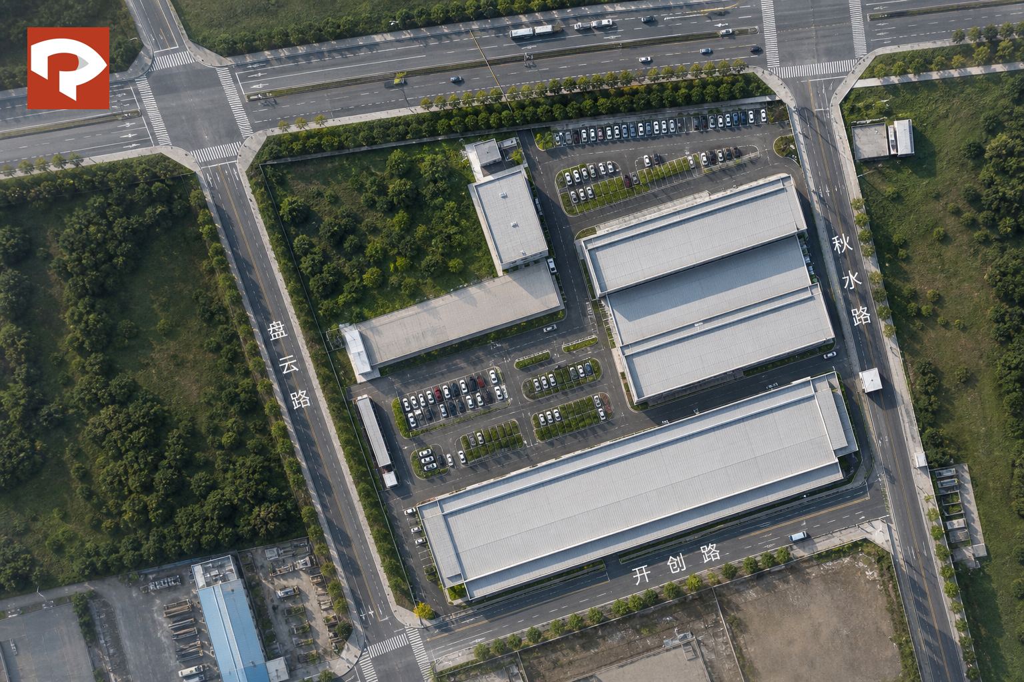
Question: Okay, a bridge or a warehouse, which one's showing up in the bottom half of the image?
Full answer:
The one visible in the bottom half of the image is a warehouse.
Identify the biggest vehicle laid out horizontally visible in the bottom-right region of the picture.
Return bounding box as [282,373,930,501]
[788,530,809,542]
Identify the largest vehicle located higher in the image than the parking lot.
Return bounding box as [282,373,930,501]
[508,22,552,38]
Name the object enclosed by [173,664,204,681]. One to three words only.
vehicle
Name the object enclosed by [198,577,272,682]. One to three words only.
shed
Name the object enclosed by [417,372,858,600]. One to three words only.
warehouse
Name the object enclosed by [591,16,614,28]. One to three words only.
vehicle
